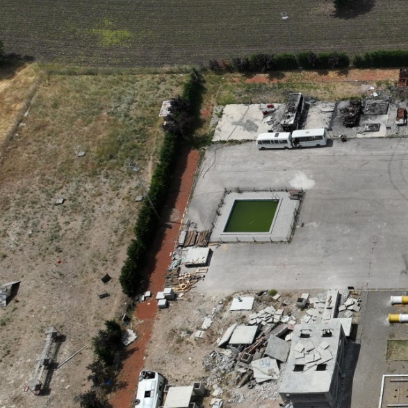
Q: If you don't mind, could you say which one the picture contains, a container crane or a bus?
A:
bus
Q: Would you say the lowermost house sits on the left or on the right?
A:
right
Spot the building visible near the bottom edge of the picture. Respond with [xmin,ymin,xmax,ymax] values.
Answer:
[280,324,345,408]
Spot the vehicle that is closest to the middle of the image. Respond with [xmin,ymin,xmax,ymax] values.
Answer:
[255,130,292,150]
